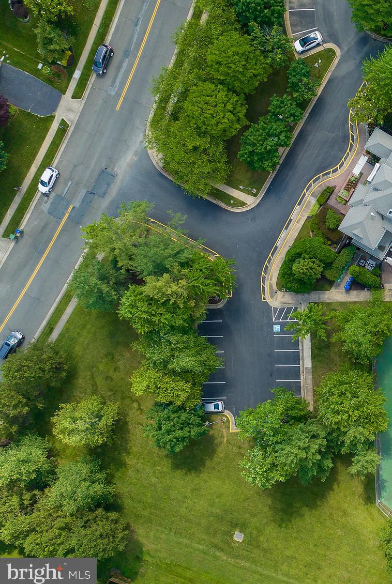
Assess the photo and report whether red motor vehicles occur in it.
No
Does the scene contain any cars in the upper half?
Yes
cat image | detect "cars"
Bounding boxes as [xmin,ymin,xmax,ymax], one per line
[295,31,324,53]
[0,332,24,360]
[39,166,59,193]
[91,44,114,75]
[198,400,225,412]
